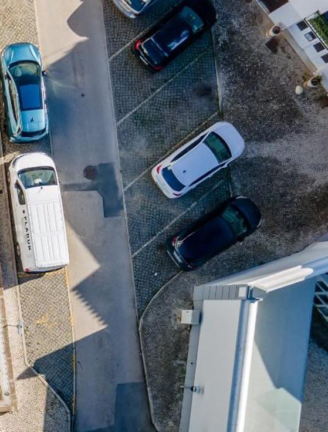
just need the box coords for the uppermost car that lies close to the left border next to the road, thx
[0,45,50,146]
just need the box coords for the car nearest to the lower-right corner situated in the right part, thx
[157,194,261,277]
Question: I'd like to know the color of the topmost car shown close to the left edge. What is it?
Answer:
blue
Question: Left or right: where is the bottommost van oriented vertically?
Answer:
left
